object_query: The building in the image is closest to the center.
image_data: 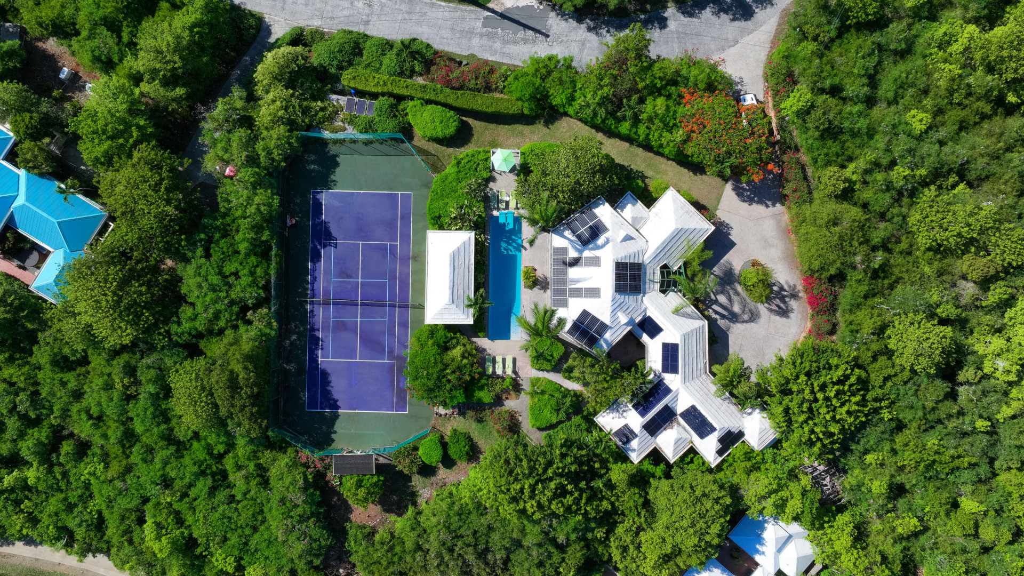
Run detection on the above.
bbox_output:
[424,230,475,324]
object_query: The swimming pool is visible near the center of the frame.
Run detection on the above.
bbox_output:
[486,213,524,342]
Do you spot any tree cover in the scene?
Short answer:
Yes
